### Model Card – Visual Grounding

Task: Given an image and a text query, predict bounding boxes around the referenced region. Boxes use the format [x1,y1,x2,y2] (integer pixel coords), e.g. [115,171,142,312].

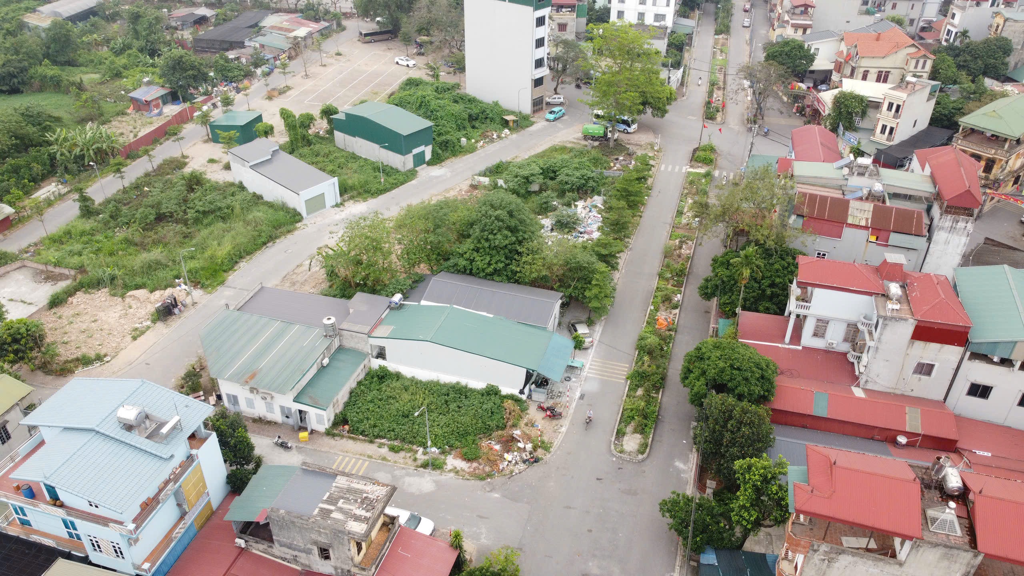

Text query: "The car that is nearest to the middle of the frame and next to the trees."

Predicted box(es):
[566,316,597,345]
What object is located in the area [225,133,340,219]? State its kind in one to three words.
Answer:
shed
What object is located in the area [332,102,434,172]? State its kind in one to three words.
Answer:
building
